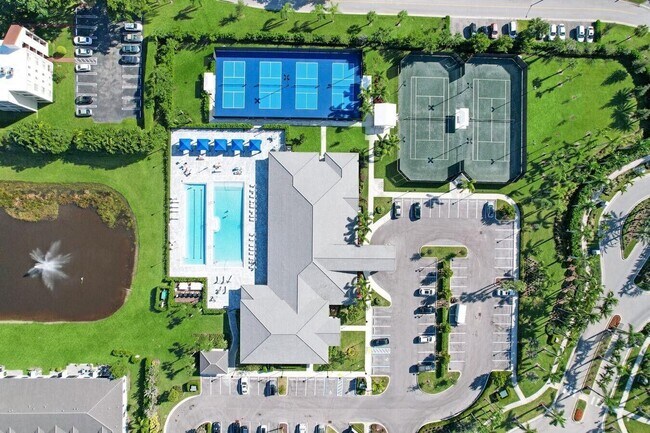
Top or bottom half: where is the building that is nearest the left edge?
top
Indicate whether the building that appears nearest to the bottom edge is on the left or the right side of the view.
left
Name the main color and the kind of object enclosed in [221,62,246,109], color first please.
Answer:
blue sports court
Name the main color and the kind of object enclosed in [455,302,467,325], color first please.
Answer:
white vehicle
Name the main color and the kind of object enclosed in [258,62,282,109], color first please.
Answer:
blue sports court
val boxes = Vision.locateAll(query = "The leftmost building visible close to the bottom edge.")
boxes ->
[0,364,129,433]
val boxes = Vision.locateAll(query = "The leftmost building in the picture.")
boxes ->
[0,23,53,111]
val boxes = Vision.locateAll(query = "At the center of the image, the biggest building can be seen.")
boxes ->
[241,152,397,364]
